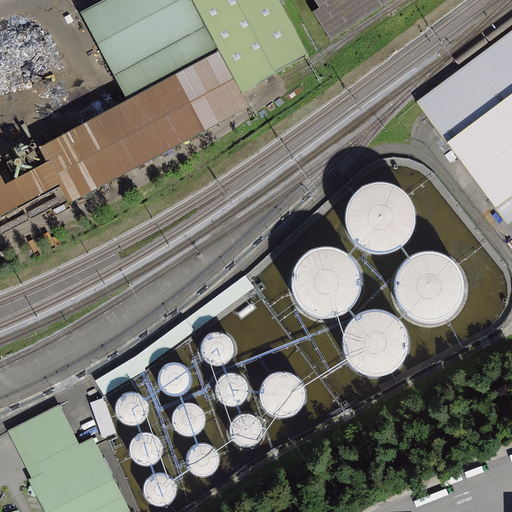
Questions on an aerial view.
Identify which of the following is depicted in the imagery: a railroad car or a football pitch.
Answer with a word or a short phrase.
railroad car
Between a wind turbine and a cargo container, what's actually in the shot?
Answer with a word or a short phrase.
cargo container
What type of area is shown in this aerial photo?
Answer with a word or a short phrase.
industrial area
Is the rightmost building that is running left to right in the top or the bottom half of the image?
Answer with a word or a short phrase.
top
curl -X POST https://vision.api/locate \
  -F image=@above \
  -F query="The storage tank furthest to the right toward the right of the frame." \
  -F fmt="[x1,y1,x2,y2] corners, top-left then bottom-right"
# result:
[392,252,470,329]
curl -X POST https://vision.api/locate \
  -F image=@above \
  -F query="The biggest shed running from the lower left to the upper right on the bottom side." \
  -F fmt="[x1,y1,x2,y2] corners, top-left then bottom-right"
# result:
[96,274,253,394]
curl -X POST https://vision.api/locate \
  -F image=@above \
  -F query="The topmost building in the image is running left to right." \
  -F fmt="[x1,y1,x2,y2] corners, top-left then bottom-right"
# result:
[313,0,404,41]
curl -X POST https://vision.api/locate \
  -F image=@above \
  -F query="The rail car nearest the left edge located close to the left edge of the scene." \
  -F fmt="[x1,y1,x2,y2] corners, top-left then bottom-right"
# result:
[0,212,30,234]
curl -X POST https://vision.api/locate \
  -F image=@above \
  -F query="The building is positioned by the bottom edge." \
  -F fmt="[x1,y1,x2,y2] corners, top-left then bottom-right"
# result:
[8,405,131,512]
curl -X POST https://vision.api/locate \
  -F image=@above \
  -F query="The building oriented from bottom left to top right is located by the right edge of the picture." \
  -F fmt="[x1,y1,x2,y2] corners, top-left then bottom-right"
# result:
[417,32,512,142]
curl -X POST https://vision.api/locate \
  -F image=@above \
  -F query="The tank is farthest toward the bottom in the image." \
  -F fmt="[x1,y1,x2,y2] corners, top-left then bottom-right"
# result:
[142,470,182,508]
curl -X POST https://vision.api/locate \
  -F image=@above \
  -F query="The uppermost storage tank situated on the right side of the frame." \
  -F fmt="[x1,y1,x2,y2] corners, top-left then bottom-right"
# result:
[344,182,420,258]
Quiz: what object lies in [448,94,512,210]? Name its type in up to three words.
building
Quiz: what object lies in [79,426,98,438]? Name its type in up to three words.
vehicle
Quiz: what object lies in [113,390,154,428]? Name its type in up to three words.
storage tank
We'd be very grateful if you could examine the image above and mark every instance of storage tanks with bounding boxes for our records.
[113,390,154,428]
[142,470,182,508]
[344,182,420,258]
[158,360,197,398]
[392,252,470,329]
[291,246,368,322]
[214,371,254,409]
[342,308,414,380]
[200,330,239,368]
[128,430,168,468]
[172,400,210,439]
[228,412,268,450]
[186,441,224,480]
[258,370,310,420]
